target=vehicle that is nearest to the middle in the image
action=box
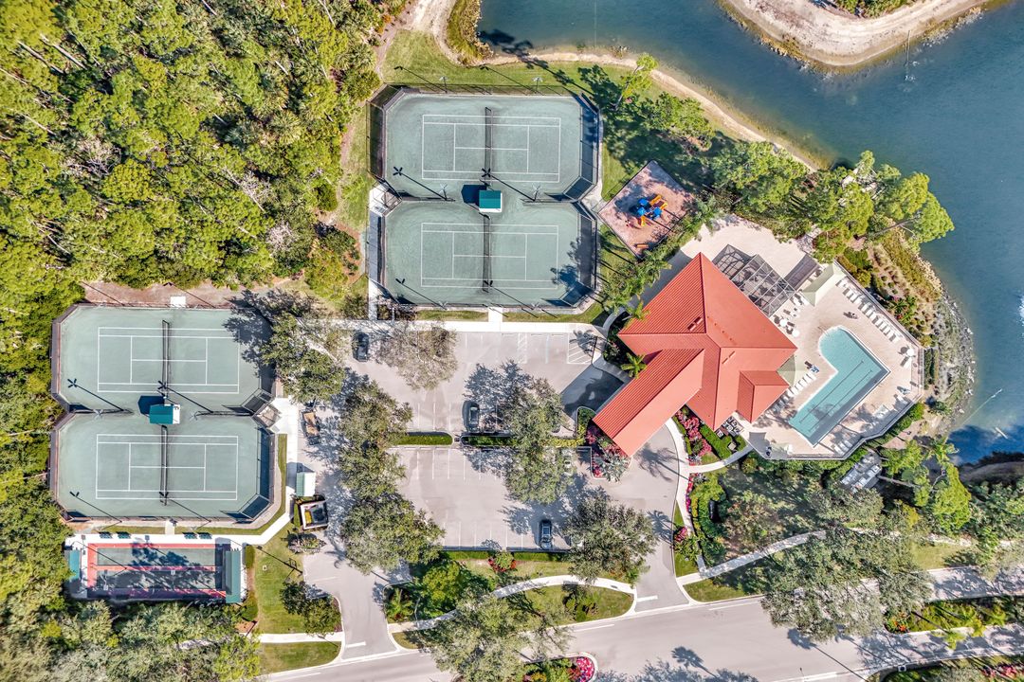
[467,402,480,430]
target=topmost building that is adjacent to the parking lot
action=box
[592,251,798,457]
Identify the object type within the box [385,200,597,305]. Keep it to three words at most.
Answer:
tennis court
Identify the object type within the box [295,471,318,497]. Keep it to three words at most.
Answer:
shed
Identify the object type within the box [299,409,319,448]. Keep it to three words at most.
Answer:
vehicle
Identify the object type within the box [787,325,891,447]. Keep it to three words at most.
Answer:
swimming pool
